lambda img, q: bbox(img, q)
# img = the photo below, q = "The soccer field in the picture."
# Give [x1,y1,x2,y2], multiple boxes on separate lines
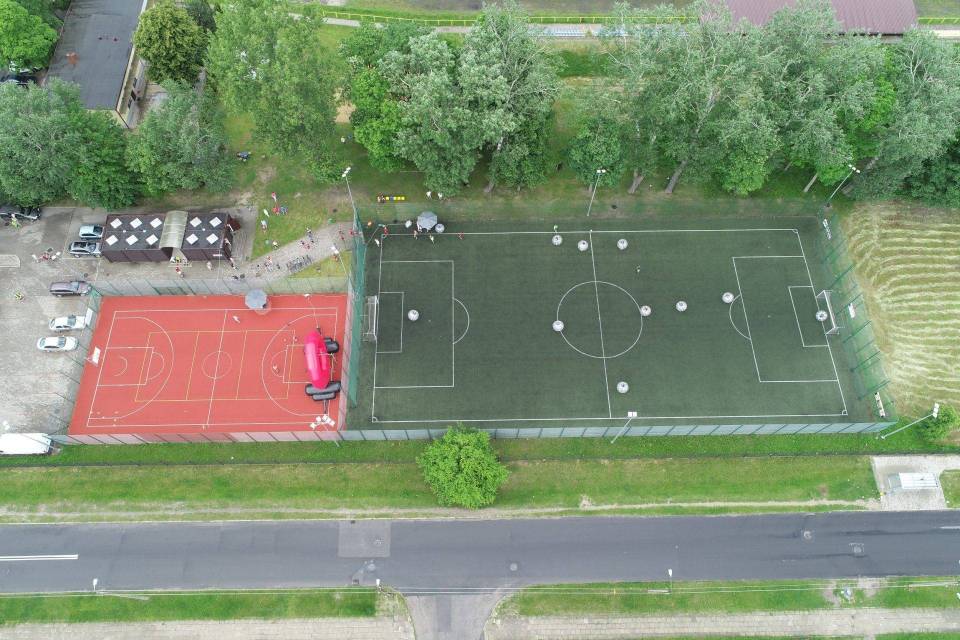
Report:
[343,217,874,429]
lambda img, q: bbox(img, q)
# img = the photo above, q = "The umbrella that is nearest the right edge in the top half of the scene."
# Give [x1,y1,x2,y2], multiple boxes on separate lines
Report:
[417,216,439,238]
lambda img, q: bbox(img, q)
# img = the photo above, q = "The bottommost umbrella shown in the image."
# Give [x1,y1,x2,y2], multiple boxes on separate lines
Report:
[245,291,268,313]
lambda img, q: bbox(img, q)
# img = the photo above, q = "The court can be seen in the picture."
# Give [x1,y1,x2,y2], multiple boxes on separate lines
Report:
[68,292,352,444]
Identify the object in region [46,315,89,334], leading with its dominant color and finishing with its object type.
white car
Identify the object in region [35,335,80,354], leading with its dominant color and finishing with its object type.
white car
